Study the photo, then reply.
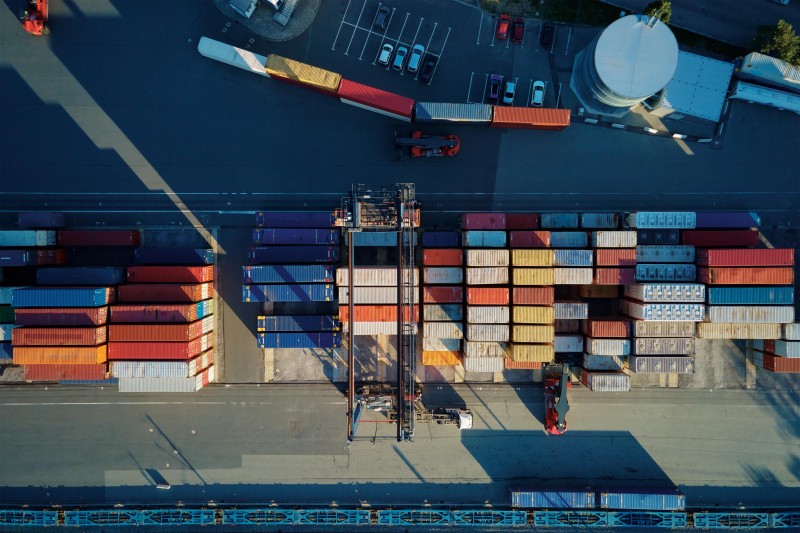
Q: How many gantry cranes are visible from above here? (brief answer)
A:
1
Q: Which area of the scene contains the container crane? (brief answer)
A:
center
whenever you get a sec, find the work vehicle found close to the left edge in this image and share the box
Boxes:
[21,0,55,38]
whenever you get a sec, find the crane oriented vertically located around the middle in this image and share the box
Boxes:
[334,174,423,442]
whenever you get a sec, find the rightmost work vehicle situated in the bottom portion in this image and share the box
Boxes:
[542,367,573,435]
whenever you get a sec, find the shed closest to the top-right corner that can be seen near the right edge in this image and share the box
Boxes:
[734,52,800,95]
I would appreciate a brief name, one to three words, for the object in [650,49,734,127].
building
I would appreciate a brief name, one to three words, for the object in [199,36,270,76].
shipping container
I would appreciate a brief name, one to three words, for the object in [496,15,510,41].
car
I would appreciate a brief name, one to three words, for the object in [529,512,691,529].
rail car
